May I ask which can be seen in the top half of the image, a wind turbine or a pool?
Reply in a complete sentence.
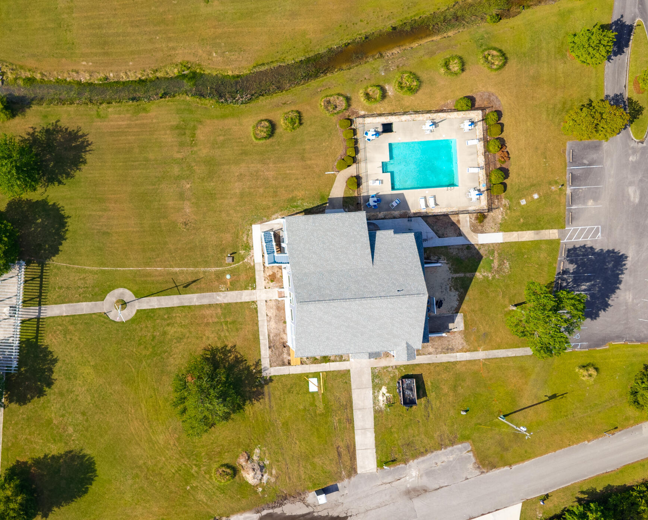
The one visible in the top half of the image is a pool.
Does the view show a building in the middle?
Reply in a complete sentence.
Yes, in the middle there is a building.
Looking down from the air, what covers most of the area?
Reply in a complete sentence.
For the most part, this view shows grass.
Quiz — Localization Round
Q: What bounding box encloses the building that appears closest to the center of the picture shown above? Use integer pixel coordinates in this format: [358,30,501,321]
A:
[283,211,431,361]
